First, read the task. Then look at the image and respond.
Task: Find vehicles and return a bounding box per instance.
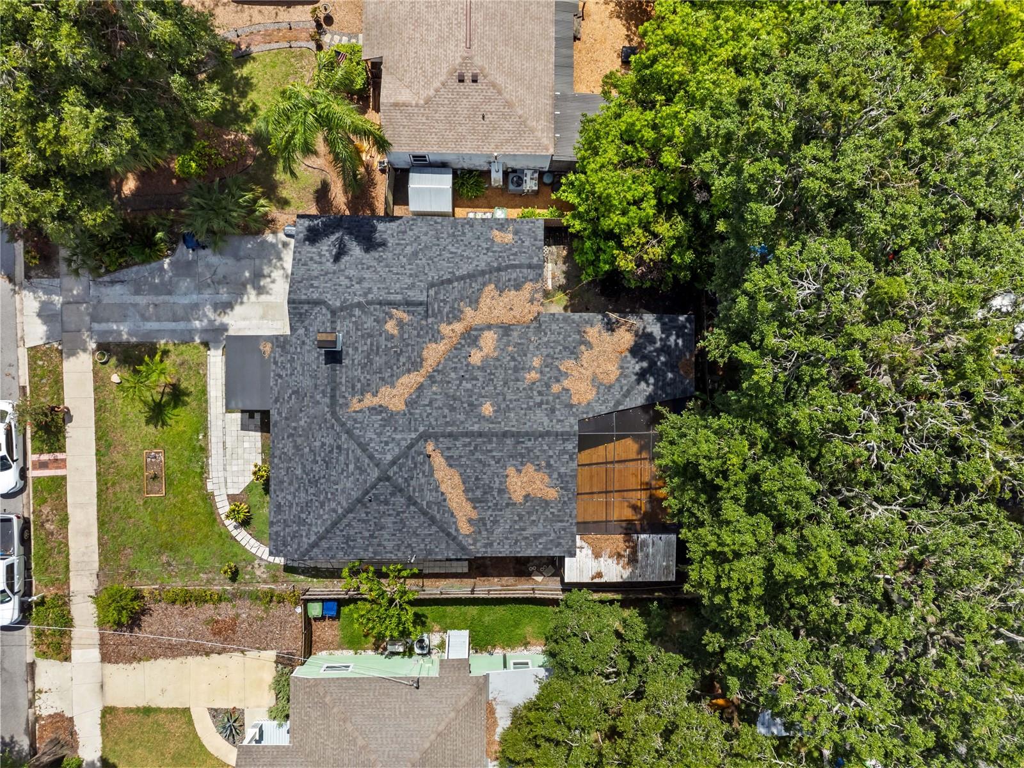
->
[0,516,31,631]
[0,401,26,495]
